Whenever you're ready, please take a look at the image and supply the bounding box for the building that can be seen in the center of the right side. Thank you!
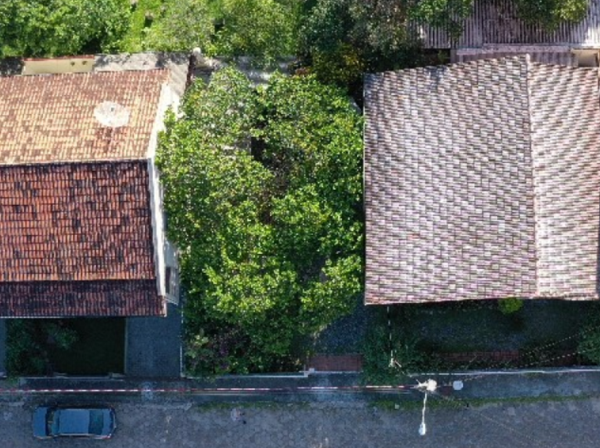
[363,54,600,305]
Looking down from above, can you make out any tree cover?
Yes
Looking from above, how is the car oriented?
horizontally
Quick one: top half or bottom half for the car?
bottom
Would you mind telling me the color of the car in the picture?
blue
